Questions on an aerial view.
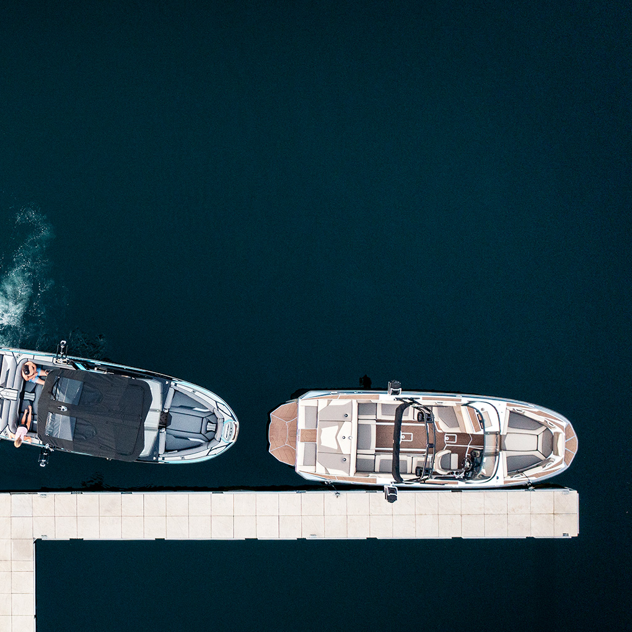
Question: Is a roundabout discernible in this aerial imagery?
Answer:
No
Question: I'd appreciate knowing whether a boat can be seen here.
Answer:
Yes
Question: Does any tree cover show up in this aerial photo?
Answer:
No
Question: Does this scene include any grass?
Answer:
No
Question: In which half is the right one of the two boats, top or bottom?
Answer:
bottom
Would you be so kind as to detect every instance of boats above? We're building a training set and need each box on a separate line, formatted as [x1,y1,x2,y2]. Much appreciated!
[267,380,579,503]
[0,340,239,467]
